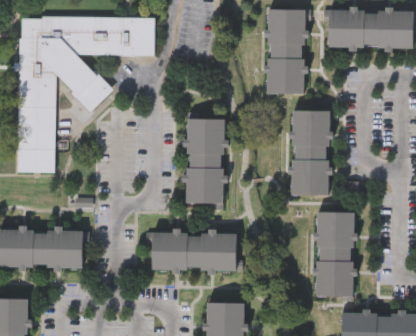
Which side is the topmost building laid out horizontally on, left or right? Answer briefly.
right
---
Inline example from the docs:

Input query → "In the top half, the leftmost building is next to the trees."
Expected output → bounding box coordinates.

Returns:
[14,16,156,174]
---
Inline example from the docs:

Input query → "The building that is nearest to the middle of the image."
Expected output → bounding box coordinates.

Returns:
[184,118,229,209]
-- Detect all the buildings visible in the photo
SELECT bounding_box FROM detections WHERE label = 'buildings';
[14,16,156,174]
[265,7,312,93]
[342,310,416,336]
[0,226,90,270]
[184,118,229,209]
[314,211,359,300]
[326,6,416,51]
[151,228,243,274]
[76,194,95,208]
[0,298,32,336]
[289,109,334,195]
[204,302,249,336]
